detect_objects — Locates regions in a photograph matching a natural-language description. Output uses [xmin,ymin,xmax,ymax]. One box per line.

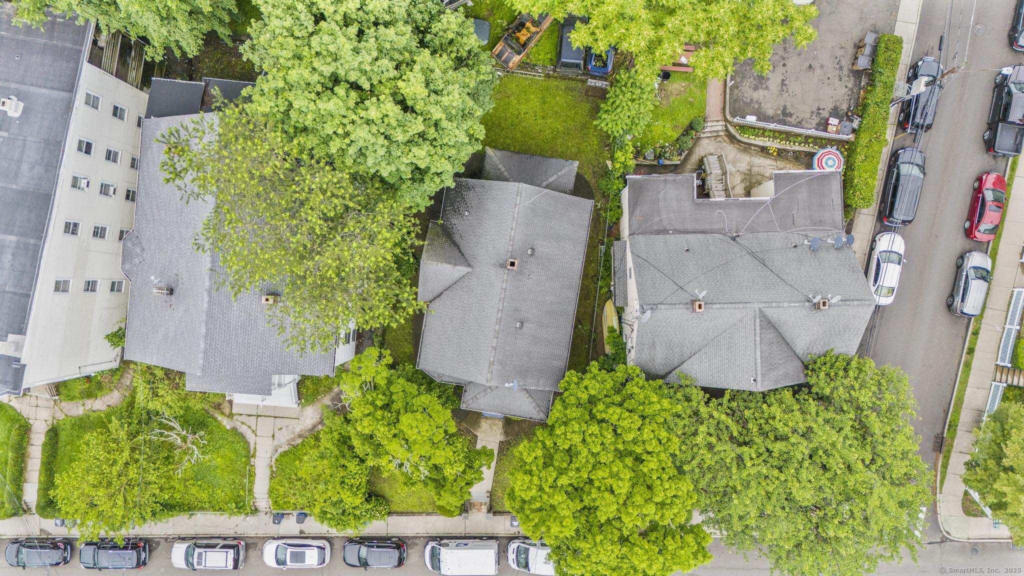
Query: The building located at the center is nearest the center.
[416,145,595,424]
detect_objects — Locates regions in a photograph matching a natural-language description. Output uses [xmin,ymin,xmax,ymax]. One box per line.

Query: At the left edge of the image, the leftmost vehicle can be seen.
[7,537,75,571]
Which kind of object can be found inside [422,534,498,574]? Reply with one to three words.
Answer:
van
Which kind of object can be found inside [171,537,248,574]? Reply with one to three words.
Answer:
car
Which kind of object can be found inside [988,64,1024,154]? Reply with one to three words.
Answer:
truck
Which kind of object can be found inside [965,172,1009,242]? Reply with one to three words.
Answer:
car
